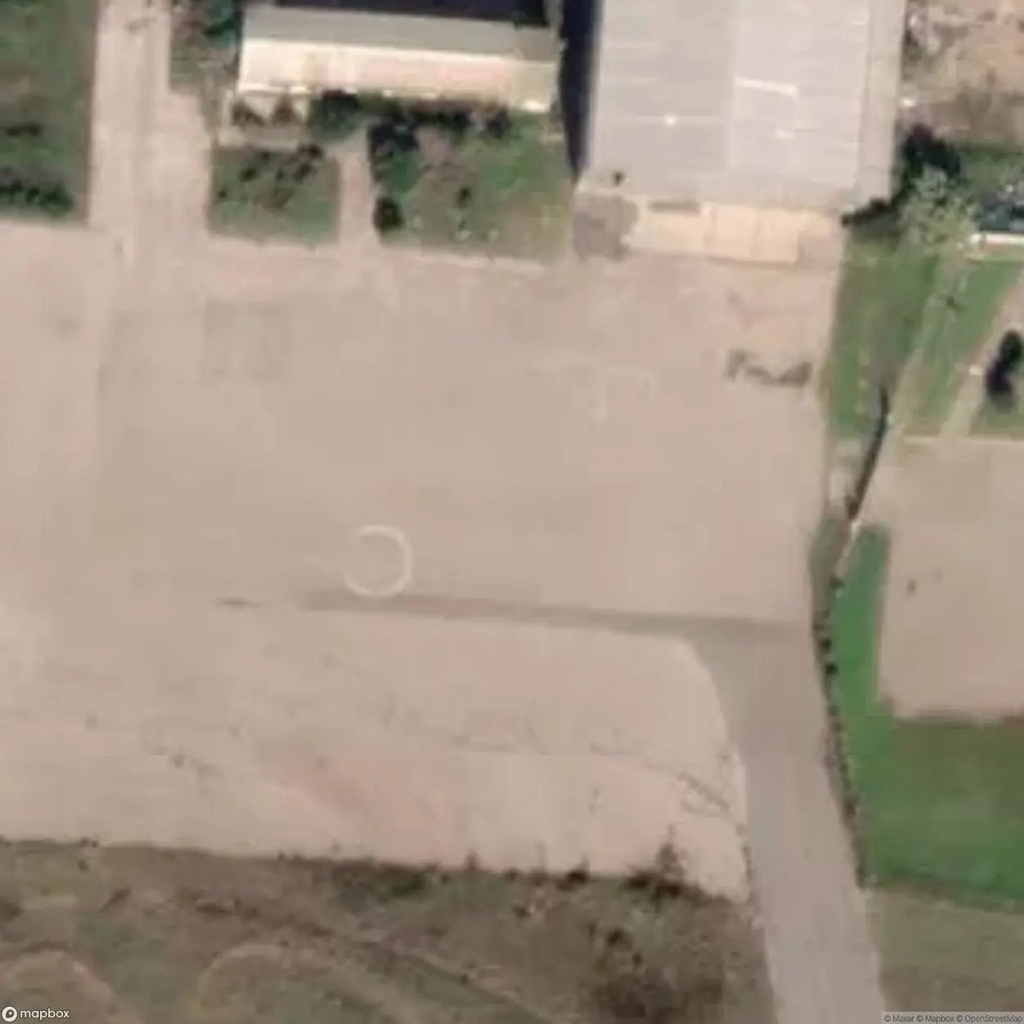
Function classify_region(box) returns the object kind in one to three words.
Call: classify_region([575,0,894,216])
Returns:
warehouse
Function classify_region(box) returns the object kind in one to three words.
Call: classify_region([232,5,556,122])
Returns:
shed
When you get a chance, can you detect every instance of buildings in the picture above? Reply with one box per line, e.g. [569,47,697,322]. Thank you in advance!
[575,0,894,216]
[971,194,1024,248]
[232,5,556,122]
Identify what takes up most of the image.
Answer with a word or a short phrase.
paved ground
